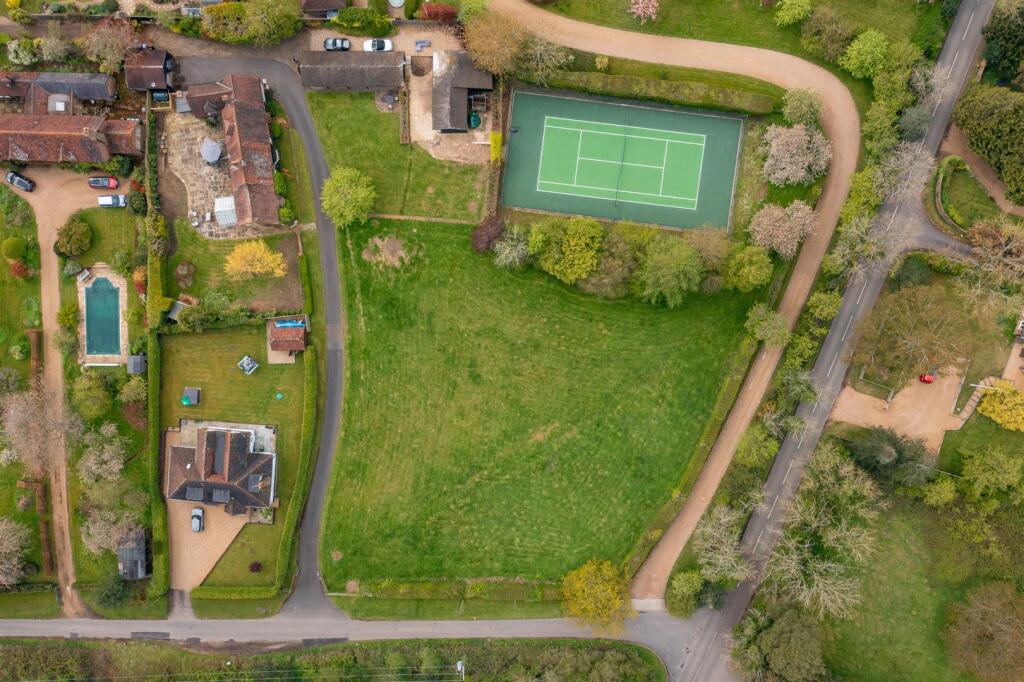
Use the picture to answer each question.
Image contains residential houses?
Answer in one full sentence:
Yes, there's a residential house down there.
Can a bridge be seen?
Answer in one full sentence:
No, there is no bridge in the image.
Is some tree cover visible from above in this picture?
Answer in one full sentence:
Yes, the picture does contain tree cover.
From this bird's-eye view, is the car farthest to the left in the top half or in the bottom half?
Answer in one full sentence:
The car farthest to the left is in the top half of the image.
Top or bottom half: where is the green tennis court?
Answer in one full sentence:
It is in the top half that the green tennis court appears.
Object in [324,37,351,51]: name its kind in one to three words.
car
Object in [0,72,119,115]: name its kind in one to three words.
barn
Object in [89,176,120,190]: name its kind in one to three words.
car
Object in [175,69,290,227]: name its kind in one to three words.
house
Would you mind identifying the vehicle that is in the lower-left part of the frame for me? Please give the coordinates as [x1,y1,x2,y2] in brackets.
[191,506,206,533]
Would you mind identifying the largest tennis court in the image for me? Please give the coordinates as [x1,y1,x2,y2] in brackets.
[499,90,744,234]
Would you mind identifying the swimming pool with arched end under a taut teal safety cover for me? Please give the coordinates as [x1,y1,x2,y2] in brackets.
[78,262,128,364]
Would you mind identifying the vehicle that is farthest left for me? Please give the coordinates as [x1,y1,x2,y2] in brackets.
[6,170,39,195]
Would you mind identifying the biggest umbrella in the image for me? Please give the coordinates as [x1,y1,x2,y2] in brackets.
[201,139,223,161]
